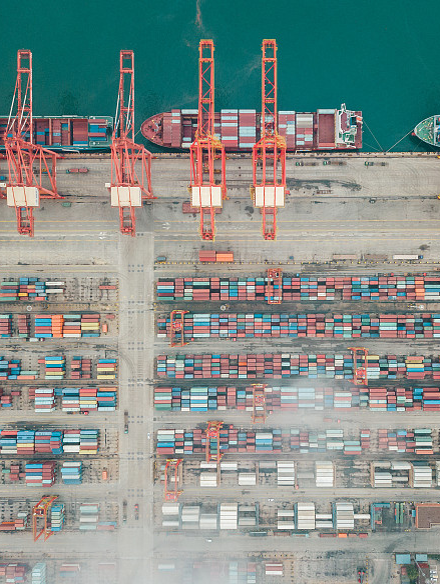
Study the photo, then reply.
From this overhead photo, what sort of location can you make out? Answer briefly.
port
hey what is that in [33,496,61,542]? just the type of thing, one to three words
container crane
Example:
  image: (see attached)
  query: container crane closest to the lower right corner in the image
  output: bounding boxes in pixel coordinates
[345,349,368,390]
